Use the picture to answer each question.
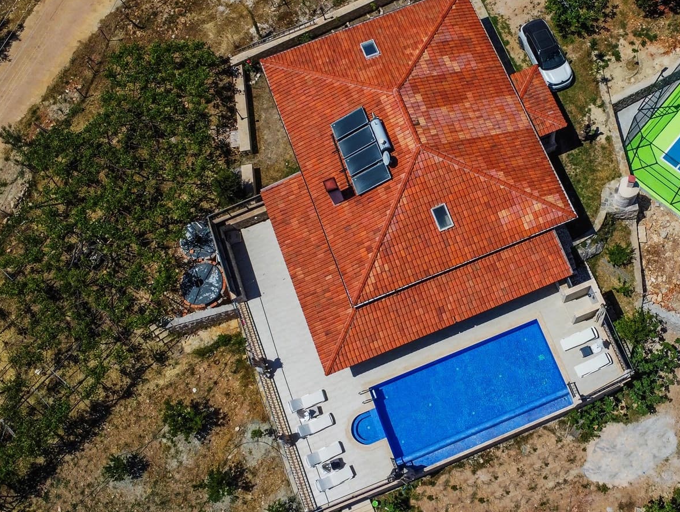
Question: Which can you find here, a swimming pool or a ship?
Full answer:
This aerial view contains a swimming pool.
